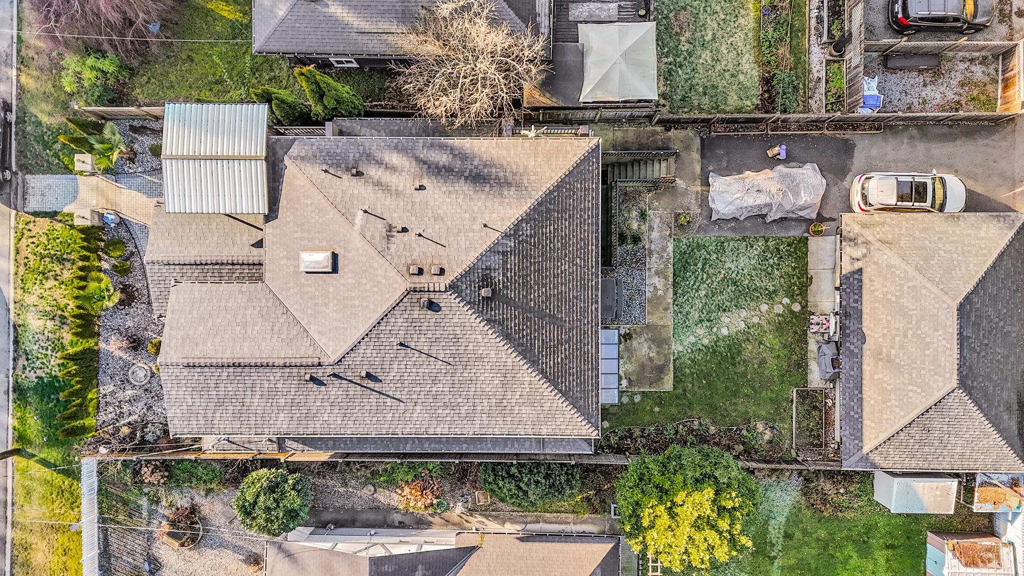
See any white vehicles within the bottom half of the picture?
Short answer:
No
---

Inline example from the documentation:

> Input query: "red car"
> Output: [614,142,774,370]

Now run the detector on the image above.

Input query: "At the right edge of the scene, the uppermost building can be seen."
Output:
[836,211,1024,473]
